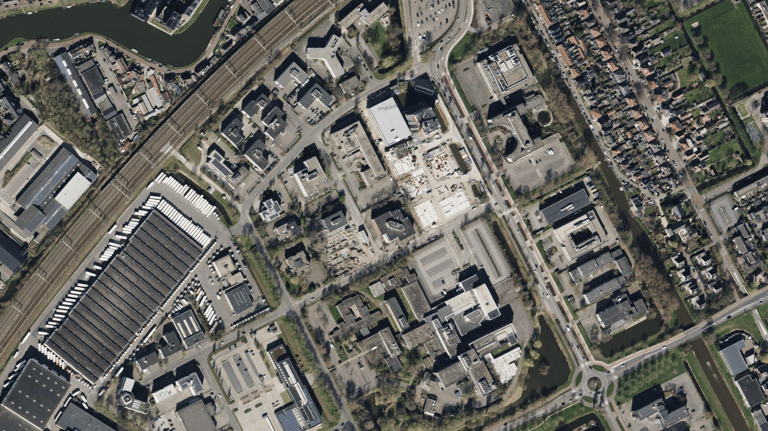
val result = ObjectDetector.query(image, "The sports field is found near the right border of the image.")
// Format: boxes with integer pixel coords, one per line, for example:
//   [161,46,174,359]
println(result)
[686,0,768,99]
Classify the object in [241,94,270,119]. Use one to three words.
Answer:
building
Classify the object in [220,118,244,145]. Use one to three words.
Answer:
building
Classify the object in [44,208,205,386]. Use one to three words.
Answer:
warehouse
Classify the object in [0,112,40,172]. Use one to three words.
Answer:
shed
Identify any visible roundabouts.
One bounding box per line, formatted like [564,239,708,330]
[576,365,614,403]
